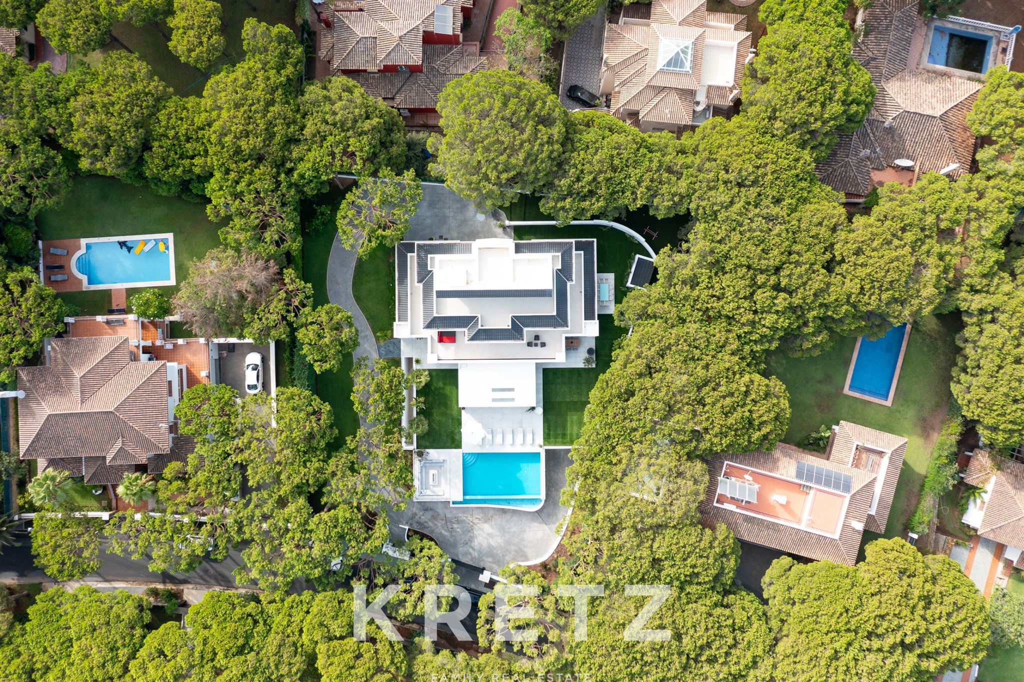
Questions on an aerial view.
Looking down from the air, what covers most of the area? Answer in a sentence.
What you mostly see from above here is trees.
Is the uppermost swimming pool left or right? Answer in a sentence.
The uppermost swimming pool sits on the right side.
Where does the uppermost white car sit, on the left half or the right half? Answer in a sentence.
The uppermost white car is on the left side of the image.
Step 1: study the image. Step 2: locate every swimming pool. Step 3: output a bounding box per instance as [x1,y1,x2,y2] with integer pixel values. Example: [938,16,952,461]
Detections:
[843,309,913,407]
[463,451,545,499]
[71,233,175,290]
[919,22,1001,77]
[450,499,545,512]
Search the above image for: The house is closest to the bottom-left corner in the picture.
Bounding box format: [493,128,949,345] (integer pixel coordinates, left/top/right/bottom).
[1,335,208,485]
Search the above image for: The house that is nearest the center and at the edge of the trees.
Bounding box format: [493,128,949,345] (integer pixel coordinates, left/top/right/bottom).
[394,238,599,407]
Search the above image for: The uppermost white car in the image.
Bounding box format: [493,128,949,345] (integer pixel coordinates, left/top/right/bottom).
[242,352,264,393]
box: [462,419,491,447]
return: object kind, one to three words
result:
umbrella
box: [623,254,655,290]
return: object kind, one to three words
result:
shed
